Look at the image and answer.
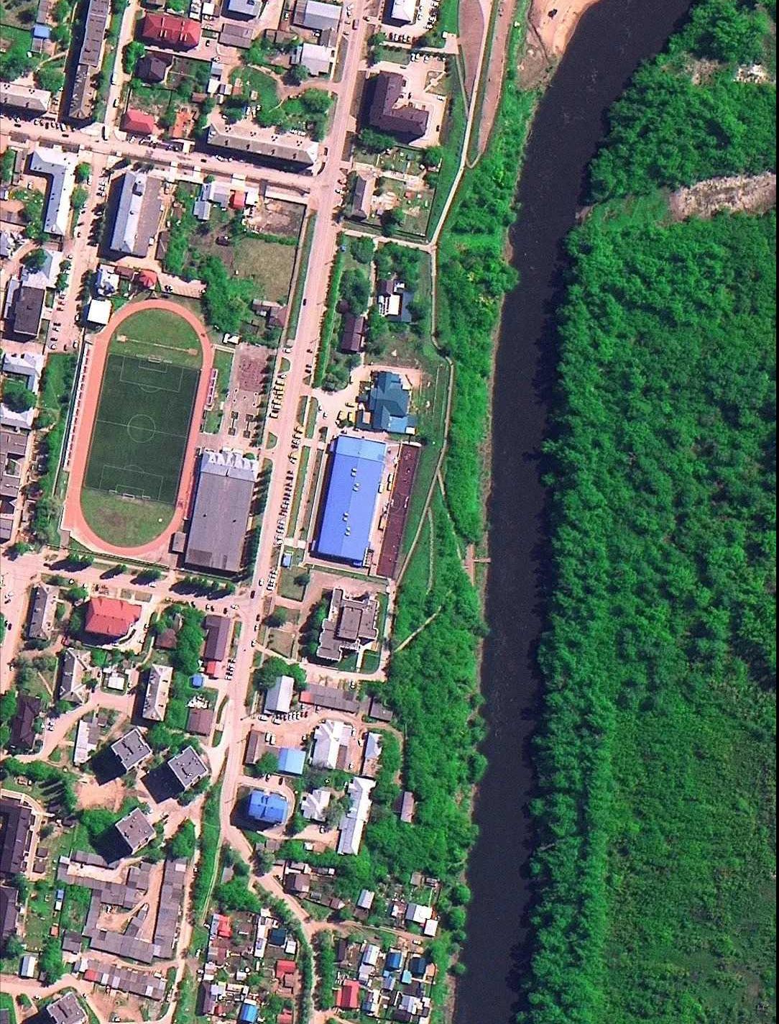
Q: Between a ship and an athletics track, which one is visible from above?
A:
athletics track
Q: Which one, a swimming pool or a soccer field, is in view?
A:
soccer field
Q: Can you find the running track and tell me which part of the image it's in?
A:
left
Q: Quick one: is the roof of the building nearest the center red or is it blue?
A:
blue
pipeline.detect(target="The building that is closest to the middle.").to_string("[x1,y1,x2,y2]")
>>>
[318,435,387,566]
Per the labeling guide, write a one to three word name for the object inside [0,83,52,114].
building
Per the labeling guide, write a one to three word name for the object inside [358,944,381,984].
house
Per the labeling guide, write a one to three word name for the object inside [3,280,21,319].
shed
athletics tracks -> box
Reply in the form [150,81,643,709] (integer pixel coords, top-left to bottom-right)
[60,300,214,555]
